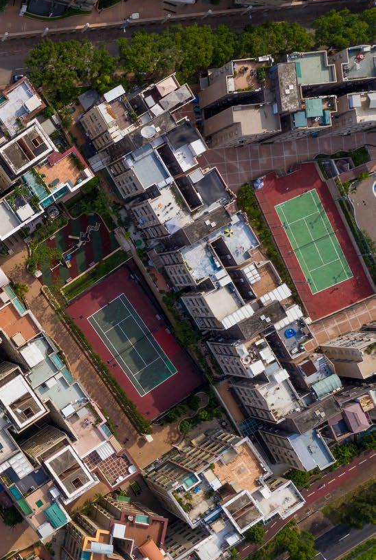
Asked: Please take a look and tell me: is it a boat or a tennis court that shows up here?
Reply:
tennis court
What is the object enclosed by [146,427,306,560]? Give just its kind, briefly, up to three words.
building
